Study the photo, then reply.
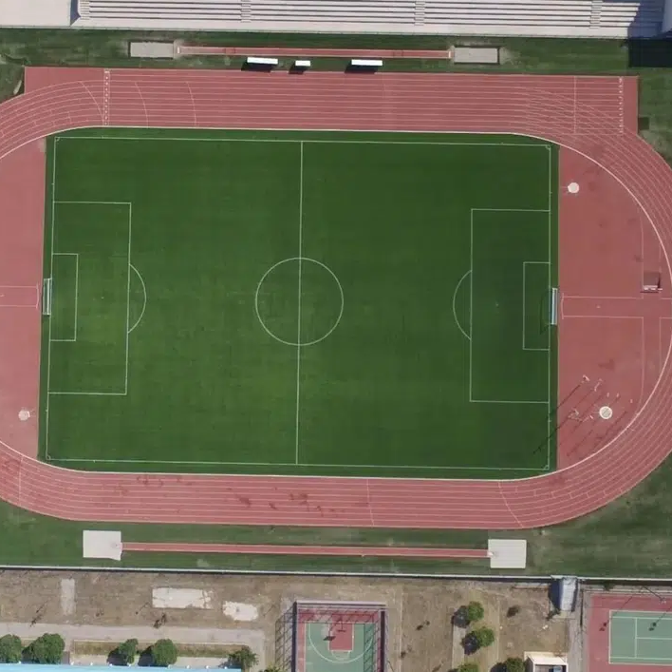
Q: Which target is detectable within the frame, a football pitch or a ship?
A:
football pitch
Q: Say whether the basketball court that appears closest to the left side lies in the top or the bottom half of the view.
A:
bottom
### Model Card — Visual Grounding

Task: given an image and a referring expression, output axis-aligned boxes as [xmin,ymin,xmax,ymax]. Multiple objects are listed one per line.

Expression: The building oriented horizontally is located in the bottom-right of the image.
[528,655,568,672]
